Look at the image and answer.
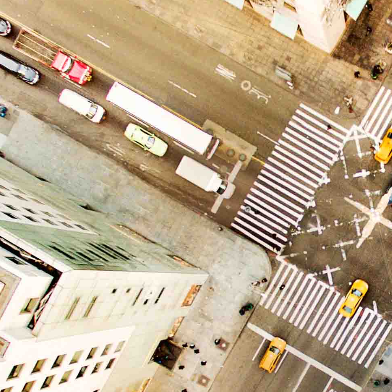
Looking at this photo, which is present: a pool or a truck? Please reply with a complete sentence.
There is a truck in the scene.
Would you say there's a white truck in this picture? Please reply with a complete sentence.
Yes, a white truck appears in the view.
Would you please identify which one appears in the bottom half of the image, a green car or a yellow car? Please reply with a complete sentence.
Looking in the bottom half of the image, you will find a yellow car.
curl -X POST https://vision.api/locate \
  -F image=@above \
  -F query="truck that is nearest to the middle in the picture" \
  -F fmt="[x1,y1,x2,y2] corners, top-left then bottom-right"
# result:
[174,153,236,198]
